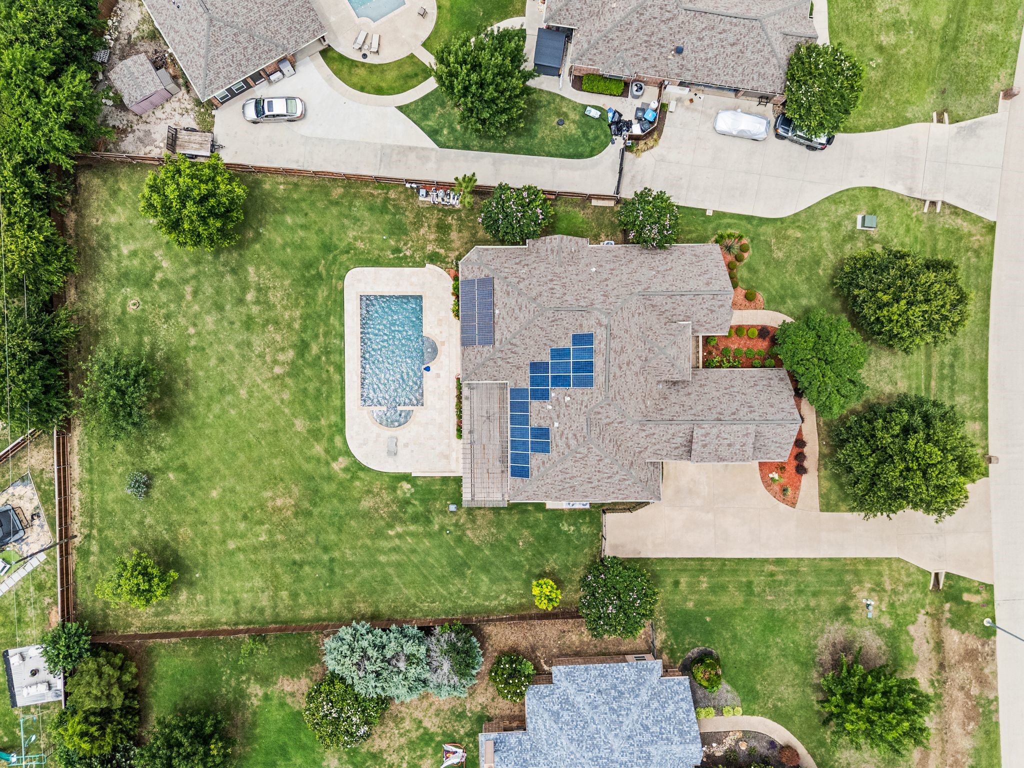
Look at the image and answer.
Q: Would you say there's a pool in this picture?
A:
Yes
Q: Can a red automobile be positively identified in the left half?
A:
No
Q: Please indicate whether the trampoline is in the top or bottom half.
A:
bottom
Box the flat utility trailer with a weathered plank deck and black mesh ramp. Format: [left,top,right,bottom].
[164,121,226,158]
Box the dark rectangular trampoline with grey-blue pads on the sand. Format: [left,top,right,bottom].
[0,505,28,545]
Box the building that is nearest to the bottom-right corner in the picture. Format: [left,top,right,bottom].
[478,647,702,768]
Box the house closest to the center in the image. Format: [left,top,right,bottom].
[459,234,802,502]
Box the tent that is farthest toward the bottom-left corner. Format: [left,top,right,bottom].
[441,743,466,768]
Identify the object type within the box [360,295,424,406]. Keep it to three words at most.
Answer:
swimming pool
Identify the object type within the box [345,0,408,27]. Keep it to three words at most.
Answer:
swimming pool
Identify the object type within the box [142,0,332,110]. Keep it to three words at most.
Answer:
house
